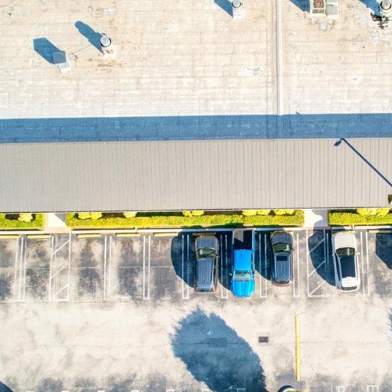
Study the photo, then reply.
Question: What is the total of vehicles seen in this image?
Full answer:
I count 3 vehicles.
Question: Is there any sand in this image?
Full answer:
No, the picture contains no sand.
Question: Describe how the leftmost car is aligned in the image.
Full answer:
The leftmost car has been laid out up and down relative to the frame.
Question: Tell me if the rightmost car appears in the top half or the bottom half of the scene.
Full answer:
The rightmost car is in the bottom half of the image.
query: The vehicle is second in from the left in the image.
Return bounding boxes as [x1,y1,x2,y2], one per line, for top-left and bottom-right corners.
[228,228,257,299]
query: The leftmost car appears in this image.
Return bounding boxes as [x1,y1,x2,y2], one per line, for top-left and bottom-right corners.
[192,233,220,296]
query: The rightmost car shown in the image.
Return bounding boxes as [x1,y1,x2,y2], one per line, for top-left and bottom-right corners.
[267,230,296,289]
